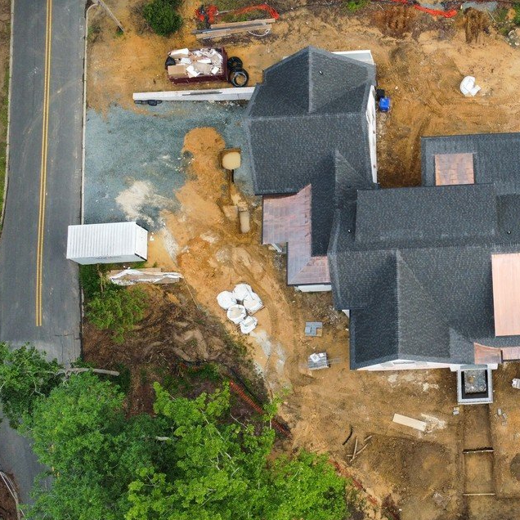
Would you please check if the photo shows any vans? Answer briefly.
No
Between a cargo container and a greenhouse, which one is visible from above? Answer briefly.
cargo container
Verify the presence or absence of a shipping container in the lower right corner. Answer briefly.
No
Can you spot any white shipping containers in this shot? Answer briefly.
Yes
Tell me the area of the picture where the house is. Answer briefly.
right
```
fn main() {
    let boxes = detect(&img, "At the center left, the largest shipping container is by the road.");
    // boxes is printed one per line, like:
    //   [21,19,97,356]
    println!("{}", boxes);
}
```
[66,221,148,266]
